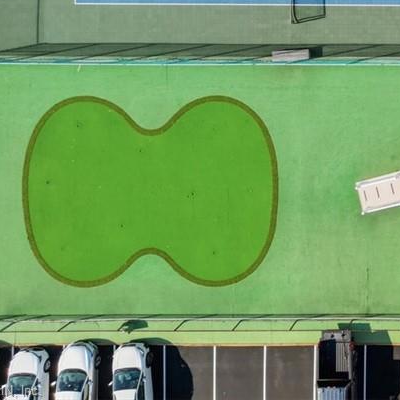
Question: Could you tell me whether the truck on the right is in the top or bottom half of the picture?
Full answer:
Seen from above, the truck on the right lies in the bottom half of the view.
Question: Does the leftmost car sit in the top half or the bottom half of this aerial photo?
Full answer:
The bottom half of the photo is where the leftmost car is.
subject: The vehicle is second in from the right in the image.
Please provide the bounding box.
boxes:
[107,339,154,400]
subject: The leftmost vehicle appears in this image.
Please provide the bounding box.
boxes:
[3,344,52,400]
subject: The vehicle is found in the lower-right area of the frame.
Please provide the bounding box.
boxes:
[318,331,357,400]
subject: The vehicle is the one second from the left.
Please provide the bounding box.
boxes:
[52,339,100,400]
